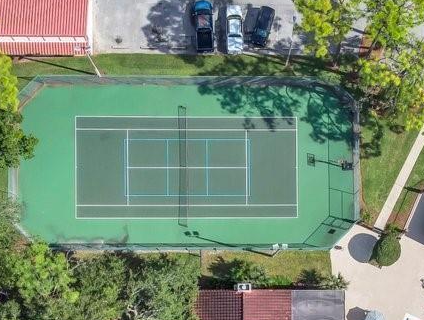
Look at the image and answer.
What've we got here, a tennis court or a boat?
tennis court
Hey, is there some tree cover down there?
Yes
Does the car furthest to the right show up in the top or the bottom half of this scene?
top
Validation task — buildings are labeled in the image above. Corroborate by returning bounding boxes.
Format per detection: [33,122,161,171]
[0,0,100,68]
[191,282,346,320]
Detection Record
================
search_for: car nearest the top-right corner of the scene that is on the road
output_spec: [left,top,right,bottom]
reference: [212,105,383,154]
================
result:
[250,1,276,46]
